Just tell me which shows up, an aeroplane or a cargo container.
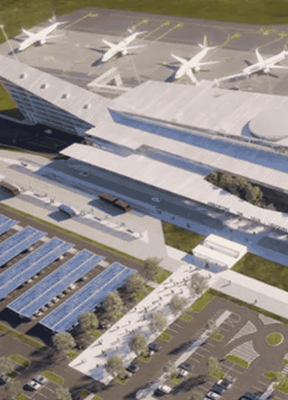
aeroplane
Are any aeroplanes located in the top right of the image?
Yes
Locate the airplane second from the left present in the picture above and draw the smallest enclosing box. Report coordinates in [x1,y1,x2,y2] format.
[100,23,147,62]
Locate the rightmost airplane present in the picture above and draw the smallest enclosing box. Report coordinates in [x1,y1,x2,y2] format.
[241,44,288,72]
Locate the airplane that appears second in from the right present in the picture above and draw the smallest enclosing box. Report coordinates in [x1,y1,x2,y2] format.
[173,36,220,78]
